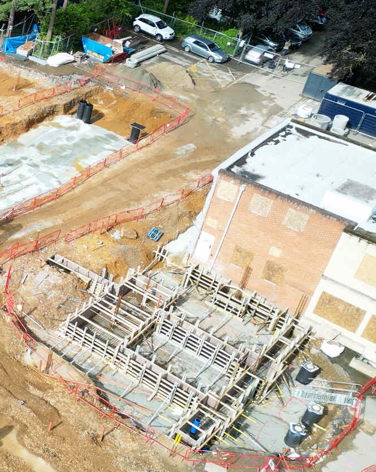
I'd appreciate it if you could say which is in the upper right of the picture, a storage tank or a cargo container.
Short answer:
cargo container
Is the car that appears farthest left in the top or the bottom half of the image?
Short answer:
top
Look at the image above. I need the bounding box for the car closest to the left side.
[132,13,179,41]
